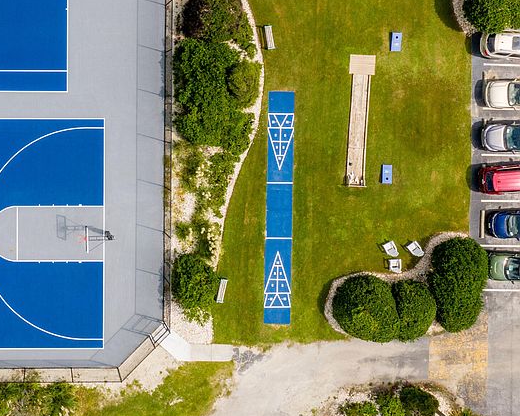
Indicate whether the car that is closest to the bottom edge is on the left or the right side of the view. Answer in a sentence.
You can find the car that is closest to the bottom edge on the right side of the picture.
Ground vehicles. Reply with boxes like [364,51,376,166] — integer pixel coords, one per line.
[488,251,520,283]
[482,122,520,155]
[477,32,520,61]
[483,78,520,111]
[476,166,520,195]
[490,209,520,243]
